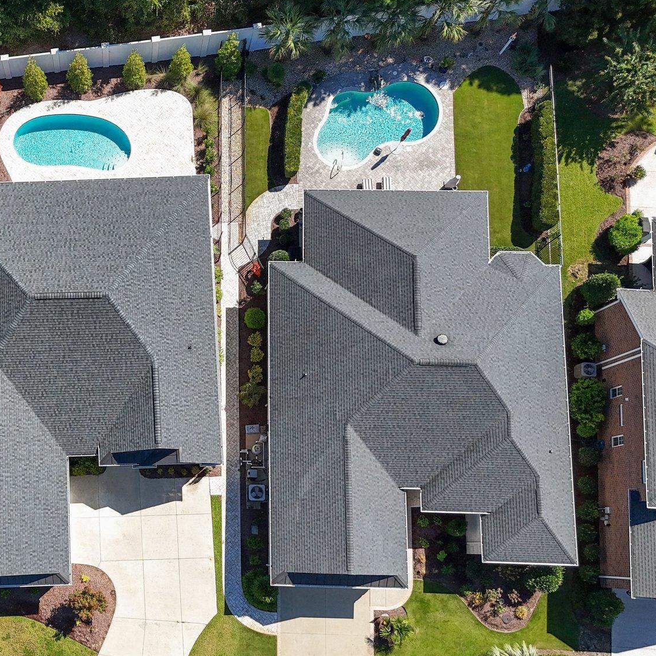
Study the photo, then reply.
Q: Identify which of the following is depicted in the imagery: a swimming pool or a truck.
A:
swimming pool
